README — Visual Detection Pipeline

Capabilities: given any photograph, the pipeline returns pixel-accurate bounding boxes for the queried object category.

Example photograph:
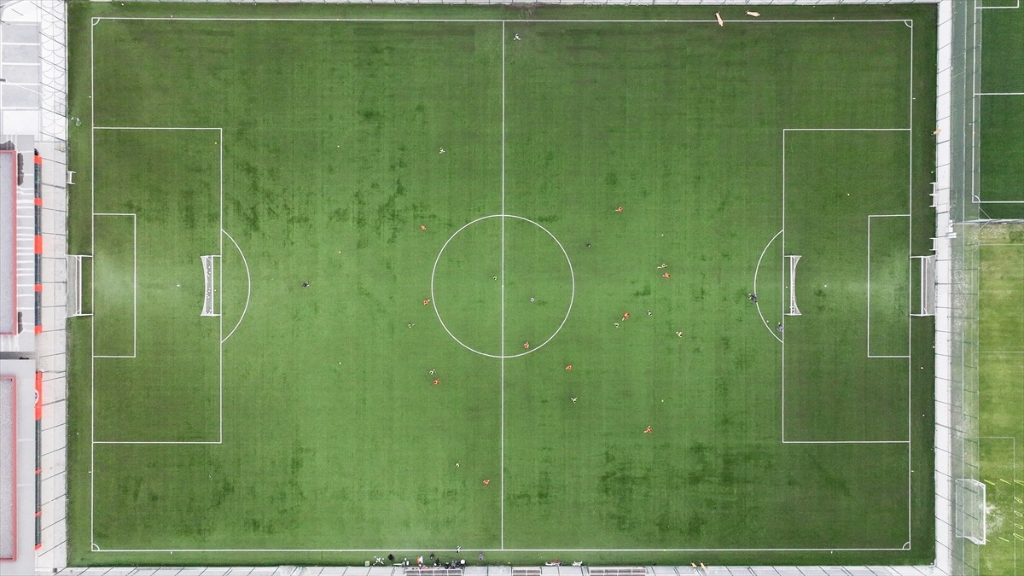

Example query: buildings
[0,358,44,576]
[0,135,43,351]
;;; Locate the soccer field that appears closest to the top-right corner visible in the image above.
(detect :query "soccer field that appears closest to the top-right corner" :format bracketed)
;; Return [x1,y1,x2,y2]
[951,0,1024,222]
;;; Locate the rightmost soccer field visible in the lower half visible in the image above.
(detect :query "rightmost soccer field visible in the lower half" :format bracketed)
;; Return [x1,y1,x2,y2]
[962,224,1024,576]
